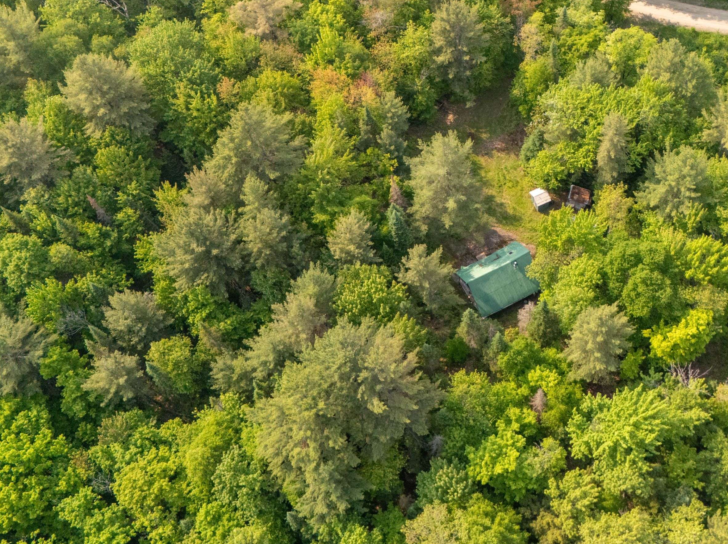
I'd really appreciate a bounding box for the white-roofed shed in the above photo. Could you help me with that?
[529,188,551,211]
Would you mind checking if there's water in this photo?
No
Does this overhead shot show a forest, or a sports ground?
forest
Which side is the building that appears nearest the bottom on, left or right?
right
